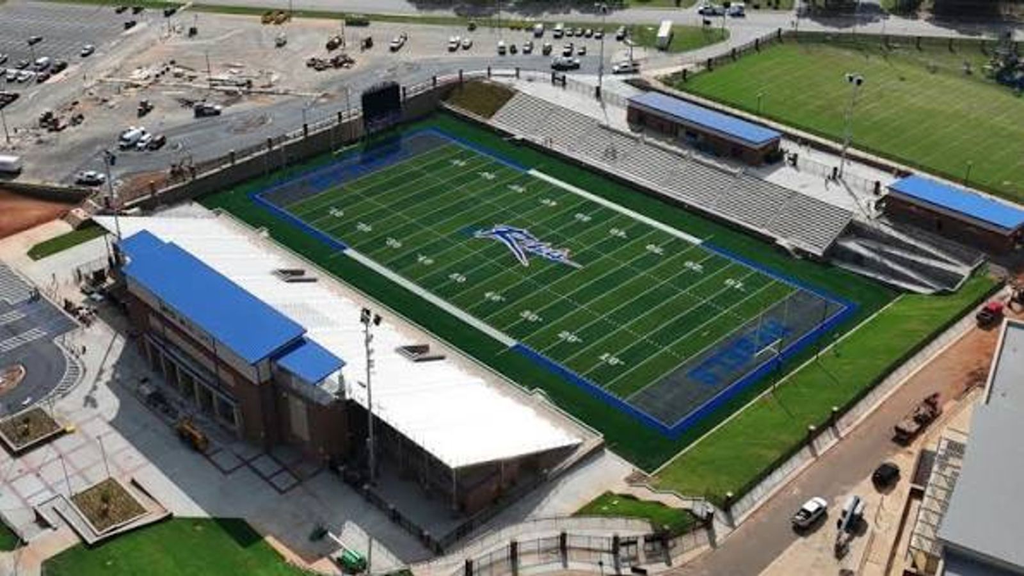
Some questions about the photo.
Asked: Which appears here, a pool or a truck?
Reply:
truck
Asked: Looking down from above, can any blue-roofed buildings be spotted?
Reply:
Yes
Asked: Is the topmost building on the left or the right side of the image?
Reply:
right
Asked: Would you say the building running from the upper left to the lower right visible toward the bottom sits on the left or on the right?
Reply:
left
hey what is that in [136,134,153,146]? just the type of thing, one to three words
vehicle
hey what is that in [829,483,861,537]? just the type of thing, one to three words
truck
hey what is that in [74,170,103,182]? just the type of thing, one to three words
vehicle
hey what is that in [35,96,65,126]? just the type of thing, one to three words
work vehicle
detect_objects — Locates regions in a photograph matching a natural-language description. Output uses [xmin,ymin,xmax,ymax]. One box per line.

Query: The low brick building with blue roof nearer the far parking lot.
[630,85,785,160]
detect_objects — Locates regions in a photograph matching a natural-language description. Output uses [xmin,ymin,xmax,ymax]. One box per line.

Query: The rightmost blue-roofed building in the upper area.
[892,167,1024,251]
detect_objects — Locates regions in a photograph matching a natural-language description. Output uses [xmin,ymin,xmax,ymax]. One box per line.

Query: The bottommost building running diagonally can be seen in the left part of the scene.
[114,232,368,469]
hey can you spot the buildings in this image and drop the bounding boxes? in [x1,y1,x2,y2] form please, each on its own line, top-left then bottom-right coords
[929,314,1024,576]
[114,232,368,469]
[630,85,785,160]
[892,167,1024,251]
